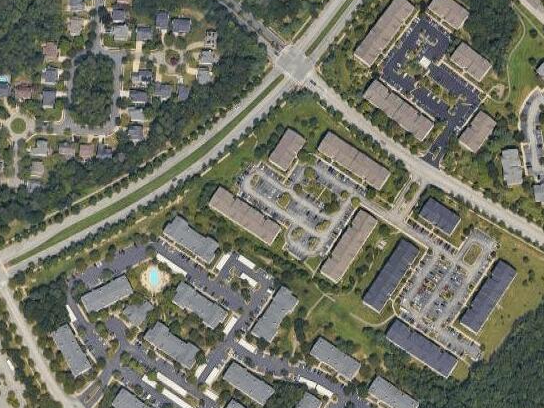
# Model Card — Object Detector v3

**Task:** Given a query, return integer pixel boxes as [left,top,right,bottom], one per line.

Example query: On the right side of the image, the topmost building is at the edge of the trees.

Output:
[429,0,470,30]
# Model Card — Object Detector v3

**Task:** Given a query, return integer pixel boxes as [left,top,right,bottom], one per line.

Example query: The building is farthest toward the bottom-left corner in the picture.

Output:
[49,324,92,377]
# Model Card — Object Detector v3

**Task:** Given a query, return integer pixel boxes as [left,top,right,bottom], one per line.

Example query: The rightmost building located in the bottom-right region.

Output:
[460,261,518,333]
